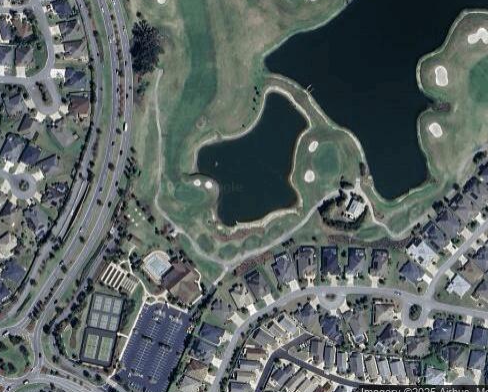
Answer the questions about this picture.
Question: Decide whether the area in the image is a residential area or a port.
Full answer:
The picture captures a residential area.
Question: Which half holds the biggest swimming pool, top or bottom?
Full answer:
Seen from above, the biggest swimming pool lies in the bottom half of the view.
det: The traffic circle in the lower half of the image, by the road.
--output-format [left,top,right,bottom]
[0,327,44,387]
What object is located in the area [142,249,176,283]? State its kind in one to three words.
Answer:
swimming pool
